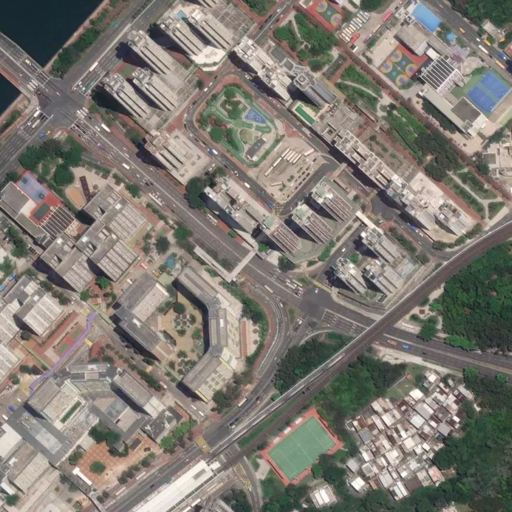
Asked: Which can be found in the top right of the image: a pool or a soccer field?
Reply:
pool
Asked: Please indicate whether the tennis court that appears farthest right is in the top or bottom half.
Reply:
top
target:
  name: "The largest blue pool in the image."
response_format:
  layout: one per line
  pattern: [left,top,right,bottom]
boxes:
[414,4,442,34]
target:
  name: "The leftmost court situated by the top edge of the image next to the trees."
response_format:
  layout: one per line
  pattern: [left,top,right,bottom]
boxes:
[308,0,345,33]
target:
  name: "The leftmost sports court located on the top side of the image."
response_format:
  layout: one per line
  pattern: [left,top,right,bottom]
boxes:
[16,170,66,225]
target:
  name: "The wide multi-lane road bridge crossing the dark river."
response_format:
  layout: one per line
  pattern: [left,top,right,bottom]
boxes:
[0,30,51,98]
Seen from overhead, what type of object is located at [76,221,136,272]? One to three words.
building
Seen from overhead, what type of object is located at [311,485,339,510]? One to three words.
house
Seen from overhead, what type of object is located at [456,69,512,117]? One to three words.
tennis court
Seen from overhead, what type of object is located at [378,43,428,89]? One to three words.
sports court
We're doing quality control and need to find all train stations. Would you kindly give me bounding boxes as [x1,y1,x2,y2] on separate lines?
[129,459,222,512]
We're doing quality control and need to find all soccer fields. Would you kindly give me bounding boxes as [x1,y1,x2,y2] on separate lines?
[262,406,344,484]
